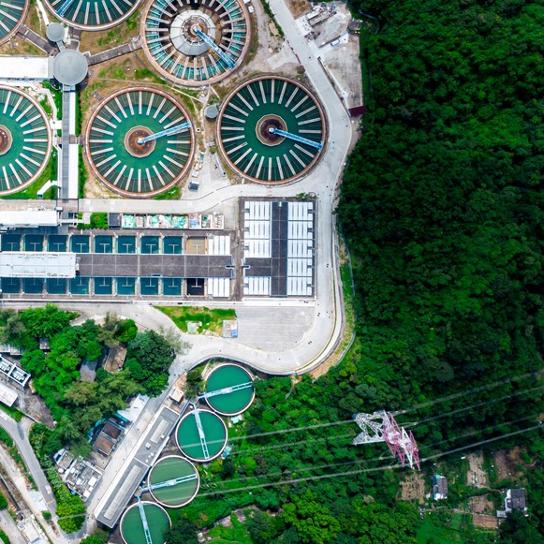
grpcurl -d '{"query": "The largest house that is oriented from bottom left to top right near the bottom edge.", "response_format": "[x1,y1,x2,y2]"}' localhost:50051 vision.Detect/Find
[91,401,180,528]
